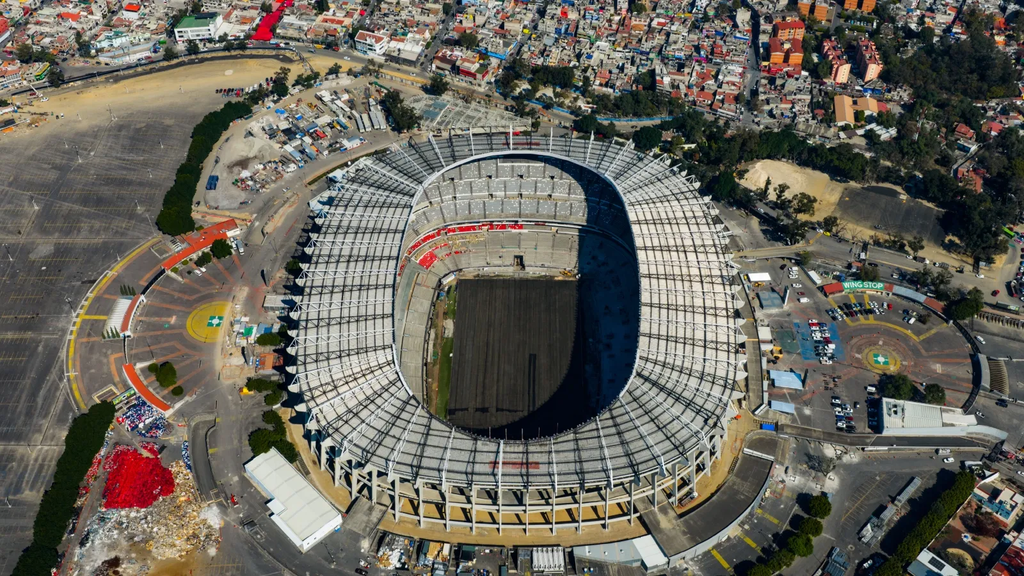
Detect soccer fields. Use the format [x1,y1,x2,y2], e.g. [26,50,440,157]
[430,272,601,427]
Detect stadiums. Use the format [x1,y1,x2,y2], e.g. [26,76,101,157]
[284,124,749,534]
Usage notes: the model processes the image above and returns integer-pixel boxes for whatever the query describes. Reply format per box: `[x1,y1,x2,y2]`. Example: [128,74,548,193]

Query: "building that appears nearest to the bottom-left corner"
[122,364,174,418]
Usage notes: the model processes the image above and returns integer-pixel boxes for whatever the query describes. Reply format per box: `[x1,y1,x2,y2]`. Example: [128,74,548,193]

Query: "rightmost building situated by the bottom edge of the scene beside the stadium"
[633,534,668,573]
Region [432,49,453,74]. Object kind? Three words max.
house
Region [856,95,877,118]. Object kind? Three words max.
building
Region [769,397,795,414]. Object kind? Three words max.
shed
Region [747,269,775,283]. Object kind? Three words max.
shed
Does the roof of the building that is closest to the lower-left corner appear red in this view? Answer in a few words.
Yes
